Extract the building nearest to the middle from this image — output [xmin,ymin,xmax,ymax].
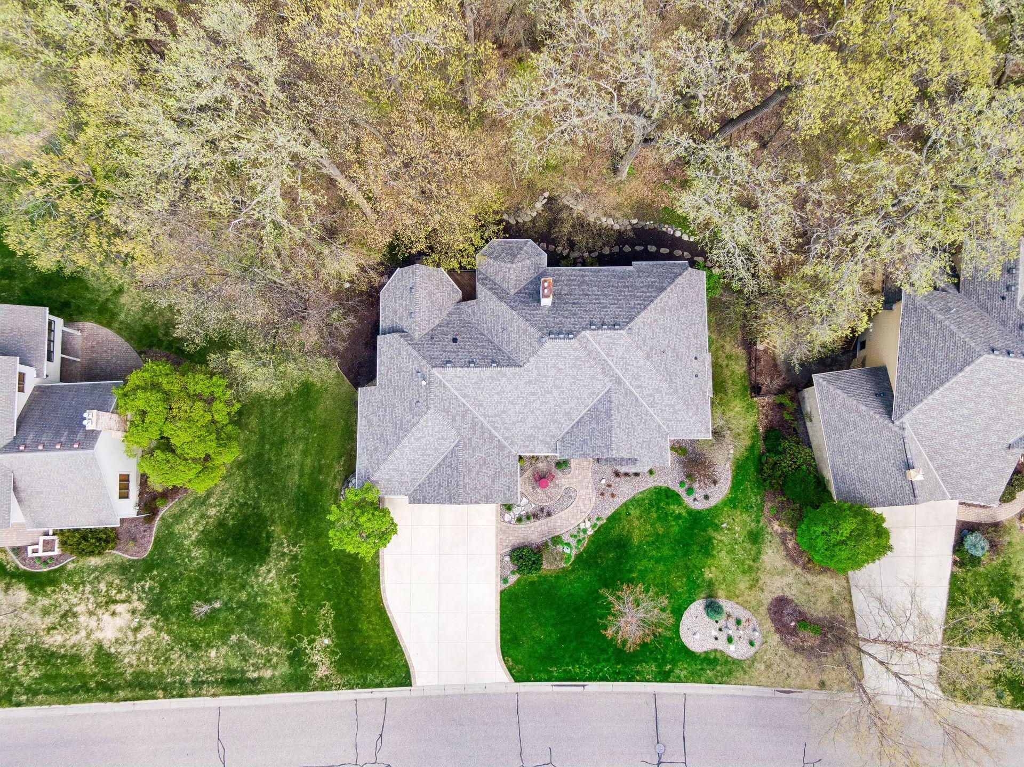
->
[355,238,714,504]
